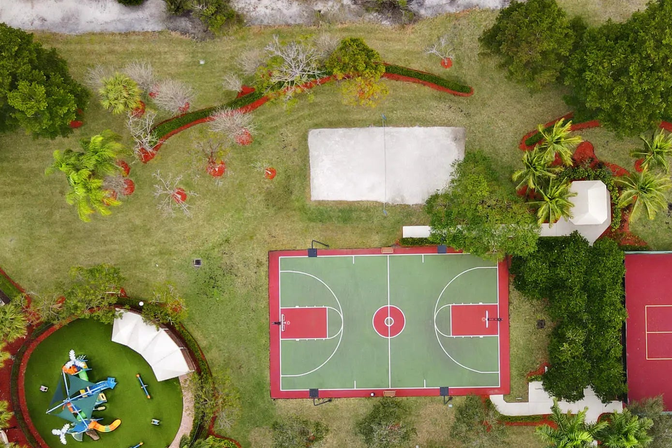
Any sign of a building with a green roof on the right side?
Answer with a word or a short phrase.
No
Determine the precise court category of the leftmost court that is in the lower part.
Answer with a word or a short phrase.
basketball court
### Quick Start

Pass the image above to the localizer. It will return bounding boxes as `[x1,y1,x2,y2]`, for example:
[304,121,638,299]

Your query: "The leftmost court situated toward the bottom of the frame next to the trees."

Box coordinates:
[268,246,510,398]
